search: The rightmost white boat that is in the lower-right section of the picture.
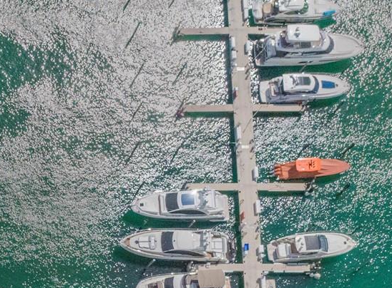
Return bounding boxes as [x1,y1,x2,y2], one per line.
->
[255,234,362,266]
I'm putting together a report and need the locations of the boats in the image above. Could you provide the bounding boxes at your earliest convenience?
[255,234,362,266]
[271,160,351,183]
[247,29,370,71]
[250,75,355,106]
[137,275,242,288]
[128,193,241,225]
[243,0,343,29]
[117,230,245,265]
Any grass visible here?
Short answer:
No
